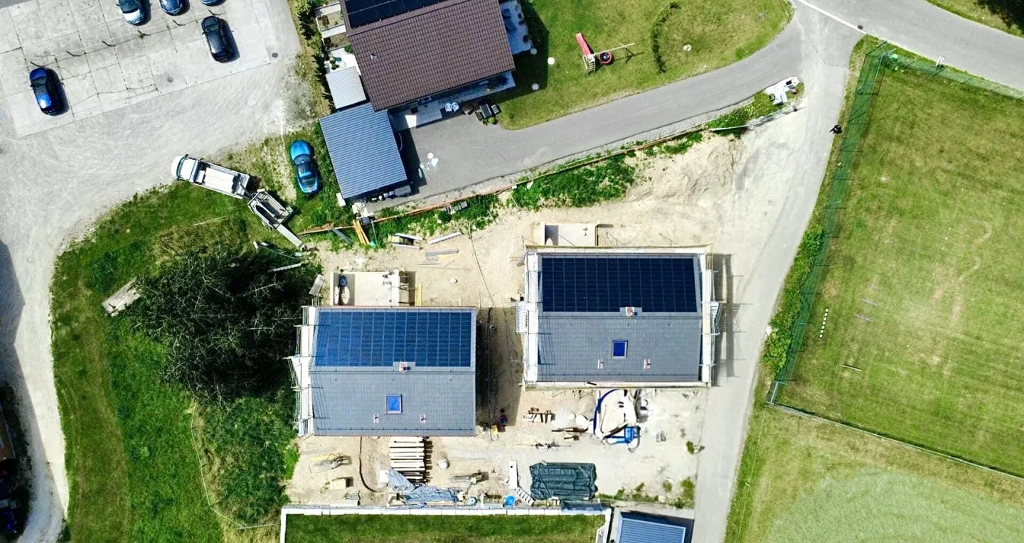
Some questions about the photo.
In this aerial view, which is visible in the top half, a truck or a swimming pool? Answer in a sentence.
It is a truck that can be seen in the top half.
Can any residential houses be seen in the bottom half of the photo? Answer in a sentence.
Yes, a residential house appears in the bottom half of the photo.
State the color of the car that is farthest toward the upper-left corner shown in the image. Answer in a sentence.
From above, the car that is farthest toward the upper-left corner appears blue.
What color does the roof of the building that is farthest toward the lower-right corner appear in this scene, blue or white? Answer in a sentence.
The color of the roof of the building that is farthest toward the lower-right corner is blue.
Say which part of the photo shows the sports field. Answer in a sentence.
The sports field is in the right part of the image.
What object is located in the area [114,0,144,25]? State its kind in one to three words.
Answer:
car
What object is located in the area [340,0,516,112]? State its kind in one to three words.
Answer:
house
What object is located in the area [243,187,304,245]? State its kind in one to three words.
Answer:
trailer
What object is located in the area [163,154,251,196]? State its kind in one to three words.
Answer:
truck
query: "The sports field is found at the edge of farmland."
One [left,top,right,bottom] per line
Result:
[768,66,1024,477]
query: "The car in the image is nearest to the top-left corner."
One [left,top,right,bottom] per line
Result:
[24,64,60,113]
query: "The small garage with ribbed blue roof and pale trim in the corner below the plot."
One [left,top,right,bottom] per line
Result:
[615,511,687,543]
